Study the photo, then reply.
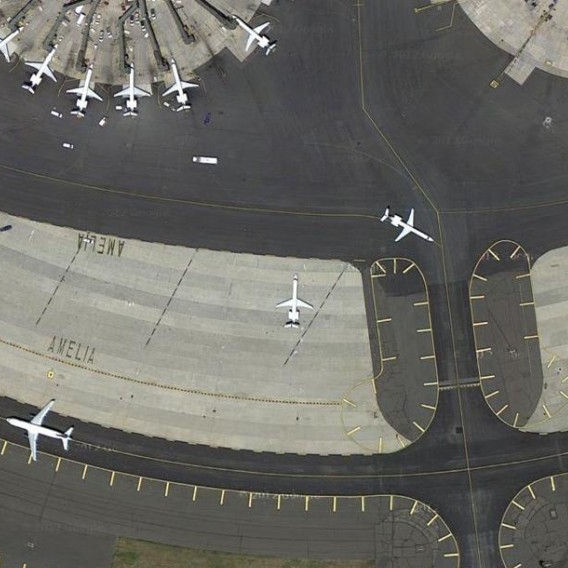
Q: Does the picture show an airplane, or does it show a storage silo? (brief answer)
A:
airplane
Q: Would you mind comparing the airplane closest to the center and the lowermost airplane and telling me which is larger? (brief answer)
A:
the lowermost airplane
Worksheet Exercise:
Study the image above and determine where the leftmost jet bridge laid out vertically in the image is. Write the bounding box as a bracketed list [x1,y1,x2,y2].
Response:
[77,0,100,70]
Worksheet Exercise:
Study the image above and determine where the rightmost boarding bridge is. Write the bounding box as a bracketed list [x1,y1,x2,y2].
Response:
[197,0,237,28]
